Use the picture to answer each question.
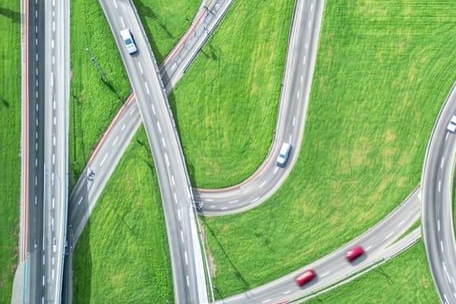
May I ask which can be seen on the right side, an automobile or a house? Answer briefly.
automobile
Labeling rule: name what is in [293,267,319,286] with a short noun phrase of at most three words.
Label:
car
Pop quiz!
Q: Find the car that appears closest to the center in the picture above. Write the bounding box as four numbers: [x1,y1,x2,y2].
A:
[275,142,293,167]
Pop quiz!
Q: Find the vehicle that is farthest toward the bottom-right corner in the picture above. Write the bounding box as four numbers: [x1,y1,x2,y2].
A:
[343,245,367,264]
